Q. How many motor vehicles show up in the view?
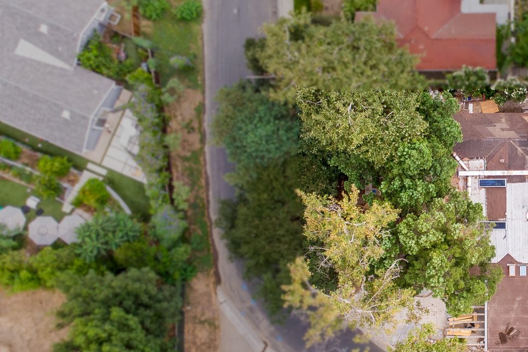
0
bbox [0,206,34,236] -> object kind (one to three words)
umbrella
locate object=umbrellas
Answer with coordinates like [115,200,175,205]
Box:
[60,212,93,242]
[0,206,34,236]
[30,216,60,246]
